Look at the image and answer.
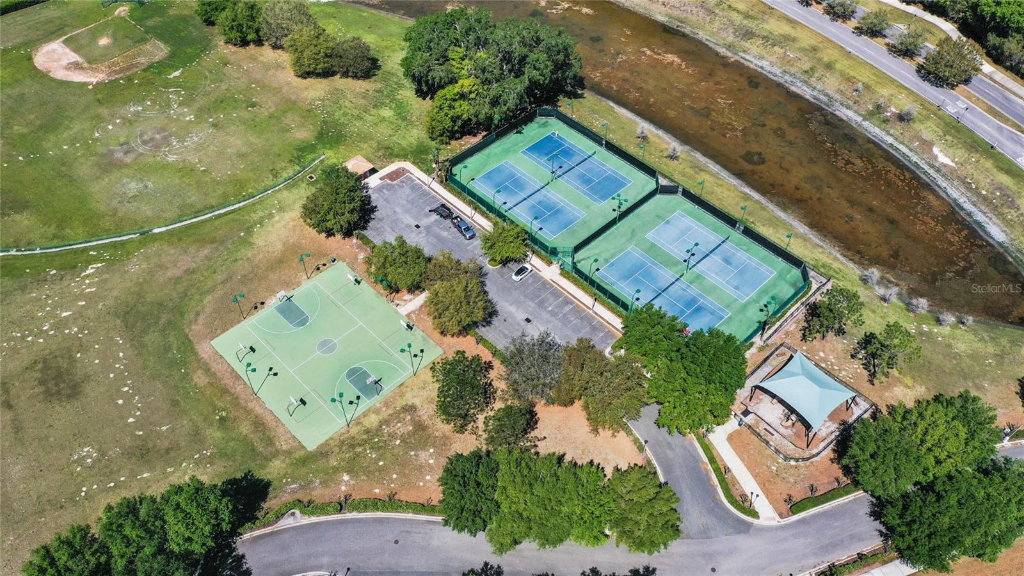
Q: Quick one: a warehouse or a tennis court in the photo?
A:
tennis court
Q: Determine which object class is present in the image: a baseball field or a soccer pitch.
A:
baseball field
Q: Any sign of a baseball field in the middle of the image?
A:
No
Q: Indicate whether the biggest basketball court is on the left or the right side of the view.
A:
left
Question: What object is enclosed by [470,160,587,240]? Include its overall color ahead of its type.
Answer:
blue tennis court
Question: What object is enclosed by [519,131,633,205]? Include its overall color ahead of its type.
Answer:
blue tennis court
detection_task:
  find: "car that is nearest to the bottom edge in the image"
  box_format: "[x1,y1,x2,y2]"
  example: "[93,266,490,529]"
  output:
[511,263,533,280]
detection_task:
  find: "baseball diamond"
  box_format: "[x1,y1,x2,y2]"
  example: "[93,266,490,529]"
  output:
[32,8,171,83]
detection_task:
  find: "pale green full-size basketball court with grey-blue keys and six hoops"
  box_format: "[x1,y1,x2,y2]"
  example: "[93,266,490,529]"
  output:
[212,261,443,450]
